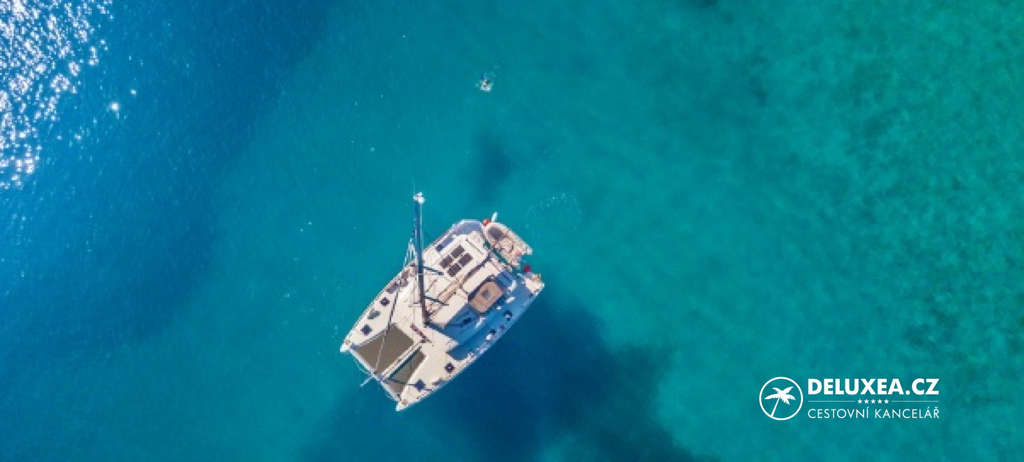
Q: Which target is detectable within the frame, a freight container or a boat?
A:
boat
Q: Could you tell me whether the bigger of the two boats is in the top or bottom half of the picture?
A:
bottom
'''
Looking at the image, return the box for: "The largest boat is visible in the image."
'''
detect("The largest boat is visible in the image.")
[340,192,542,416]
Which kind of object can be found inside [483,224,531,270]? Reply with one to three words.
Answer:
boat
